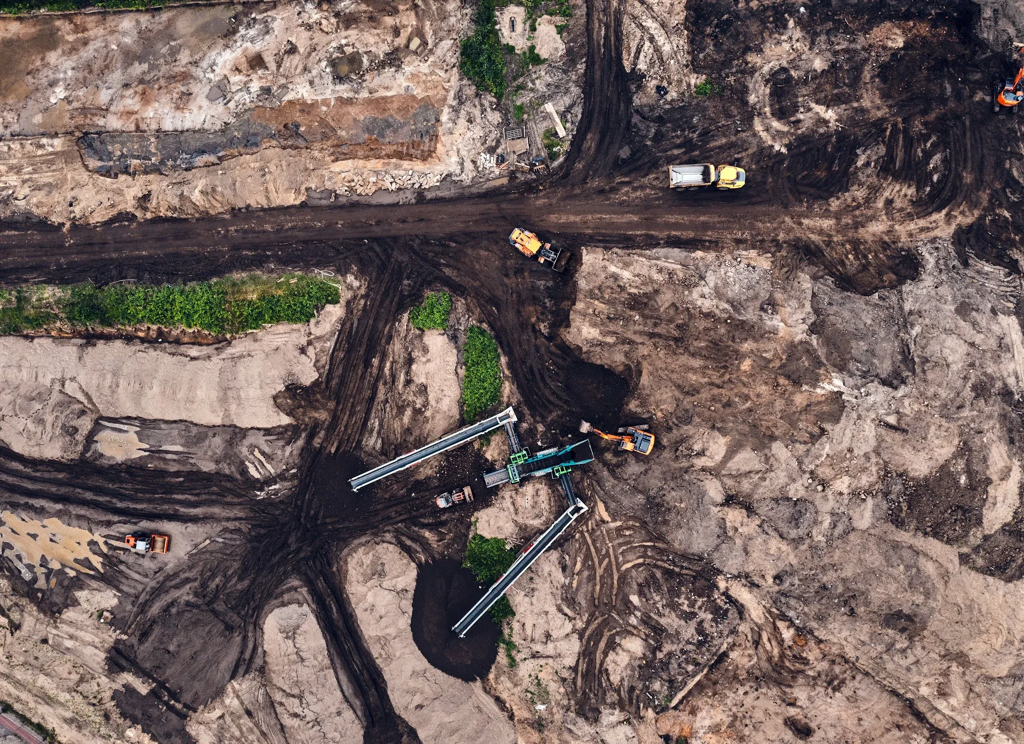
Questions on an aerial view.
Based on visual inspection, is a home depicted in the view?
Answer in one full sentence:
No, the frame has no home in it.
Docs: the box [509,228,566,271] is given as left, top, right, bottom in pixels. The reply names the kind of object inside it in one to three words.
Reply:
work vehicle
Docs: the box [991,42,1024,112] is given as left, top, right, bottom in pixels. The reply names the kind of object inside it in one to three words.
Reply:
work vehicle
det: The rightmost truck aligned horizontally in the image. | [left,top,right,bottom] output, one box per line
[668,162,745,190]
